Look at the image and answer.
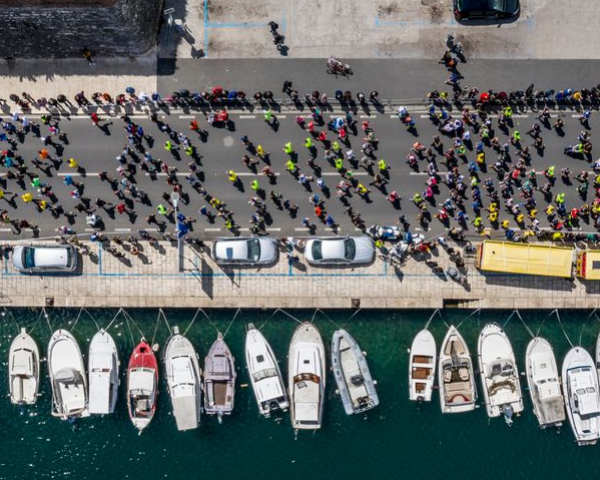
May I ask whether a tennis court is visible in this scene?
No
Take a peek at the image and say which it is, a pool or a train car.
train car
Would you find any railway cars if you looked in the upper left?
No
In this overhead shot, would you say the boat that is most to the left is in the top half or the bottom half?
bottom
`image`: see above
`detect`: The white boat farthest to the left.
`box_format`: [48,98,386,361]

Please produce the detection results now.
[4,308,43,409]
